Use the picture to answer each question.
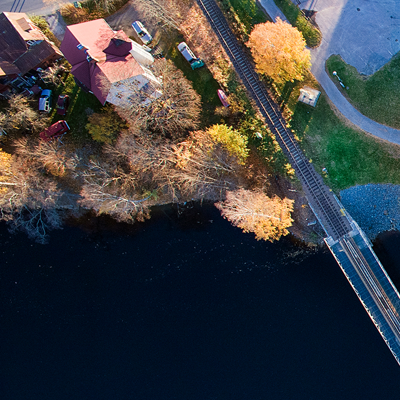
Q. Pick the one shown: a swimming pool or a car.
car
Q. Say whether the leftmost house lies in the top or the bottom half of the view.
top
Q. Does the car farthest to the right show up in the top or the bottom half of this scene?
top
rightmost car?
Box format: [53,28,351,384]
[181,42,207,73]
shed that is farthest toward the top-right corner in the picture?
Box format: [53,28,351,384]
[296,86,320,108]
